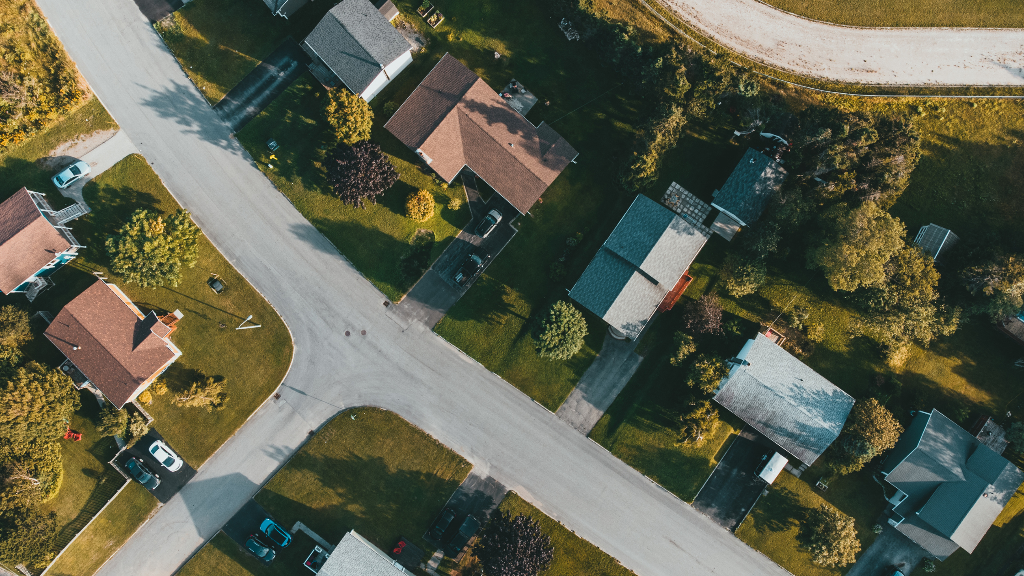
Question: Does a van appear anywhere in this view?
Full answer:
Yes, there's a van here.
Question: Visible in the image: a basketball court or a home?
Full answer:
Looking from above, you can make out a home.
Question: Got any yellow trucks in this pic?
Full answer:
No, no yellow truck is visible in the scene.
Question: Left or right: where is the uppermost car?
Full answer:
The uppermost car appears in the left half of the scene.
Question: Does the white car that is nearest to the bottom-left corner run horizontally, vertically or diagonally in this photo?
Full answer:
Seen from above, the white car that is nearest to the bottom-left corner lies diagonally.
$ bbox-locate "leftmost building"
[0,187,88,303]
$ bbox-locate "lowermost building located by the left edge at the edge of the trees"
[36,279,186,409]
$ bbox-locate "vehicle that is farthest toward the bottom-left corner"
[124,455,161,492]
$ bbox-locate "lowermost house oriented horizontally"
[303,524,425,576]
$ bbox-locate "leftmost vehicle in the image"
[51,158,92,189]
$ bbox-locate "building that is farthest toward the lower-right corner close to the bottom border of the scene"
[870,406,1024,562]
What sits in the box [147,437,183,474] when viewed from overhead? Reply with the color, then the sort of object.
white car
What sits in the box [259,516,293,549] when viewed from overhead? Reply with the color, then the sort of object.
blue car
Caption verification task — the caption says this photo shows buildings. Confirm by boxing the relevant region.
[36,279,186,409]
[566,193,707,341]
[303,524,425,576]
[293,0,413,100]
[710,327,855,467]
[0,187,88,303]
[710,147,789,228]
[384,52,580,215]
[870,406,1024,562]
[913,223,960,267]
[261,0,306,21]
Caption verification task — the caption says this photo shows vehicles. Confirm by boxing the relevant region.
[444,512,482,560]
[450,245,490,290]
[124,455,161,492]
[51,158,92,189]
[259,516,293,549]
[756,444,790,488]
[147,437,183,474]
[242,533,278,564]
[473,206,503,241]
[882,560,904,576]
